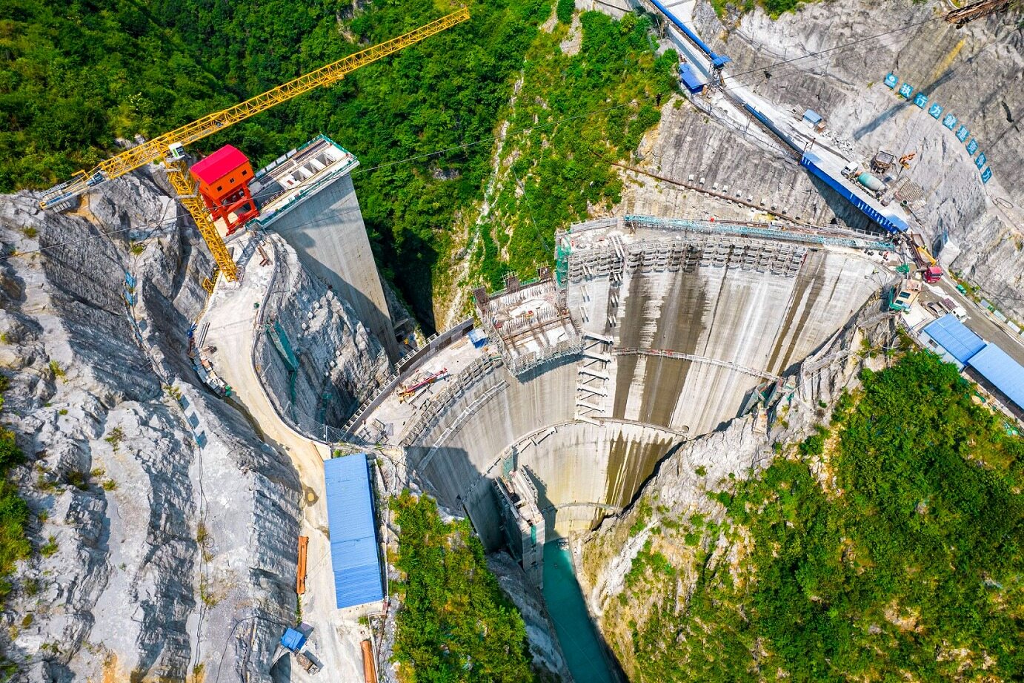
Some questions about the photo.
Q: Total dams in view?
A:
one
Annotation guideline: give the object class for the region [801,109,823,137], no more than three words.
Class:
shed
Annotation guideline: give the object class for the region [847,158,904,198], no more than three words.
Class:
truck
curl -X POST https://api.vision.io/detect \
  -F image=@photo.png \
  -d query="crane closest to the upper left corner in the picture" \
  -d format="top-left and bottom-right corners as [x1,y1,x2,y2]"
[33,1,473,291]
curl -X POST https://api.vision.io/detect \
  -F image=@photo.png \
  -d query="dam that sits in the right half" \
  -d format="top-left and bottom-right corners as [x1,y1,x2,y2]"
[329,199,990,560]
